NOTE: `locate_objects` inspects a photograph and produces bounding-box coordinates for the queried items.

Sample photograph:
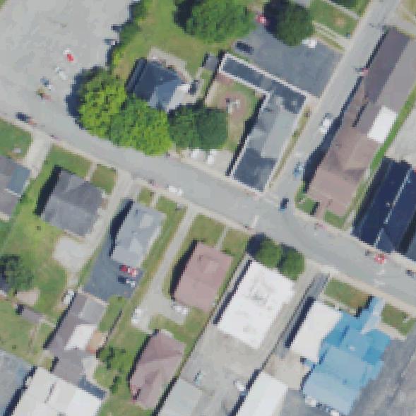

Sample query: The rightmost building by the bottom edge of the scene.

[288,296,390,414]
